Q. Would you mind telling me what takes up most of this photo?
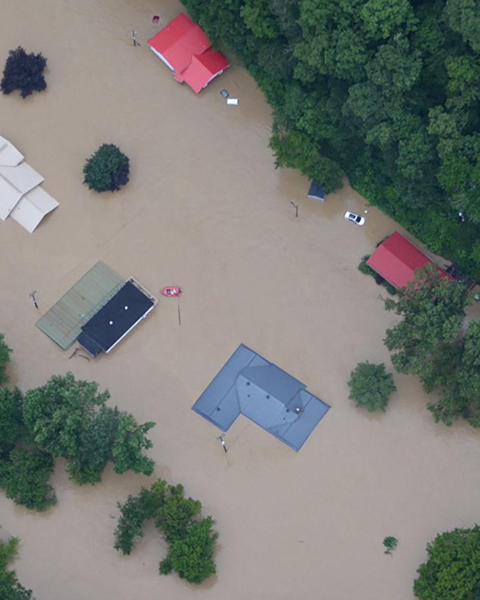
water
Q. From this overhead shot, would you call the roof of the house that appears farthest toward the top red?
Yes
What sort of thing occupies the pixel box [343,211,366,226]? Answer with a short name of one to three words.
car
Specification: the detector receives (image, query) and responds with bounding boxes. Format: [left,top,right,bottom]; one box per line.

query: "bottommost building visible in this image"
[192,343,332,453]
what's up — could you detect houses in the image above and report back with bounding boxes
[192,343,332,453]
[366,232,450,300]
[147,13,230,94]
[0,136,59,234]
[36,261,158,357]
